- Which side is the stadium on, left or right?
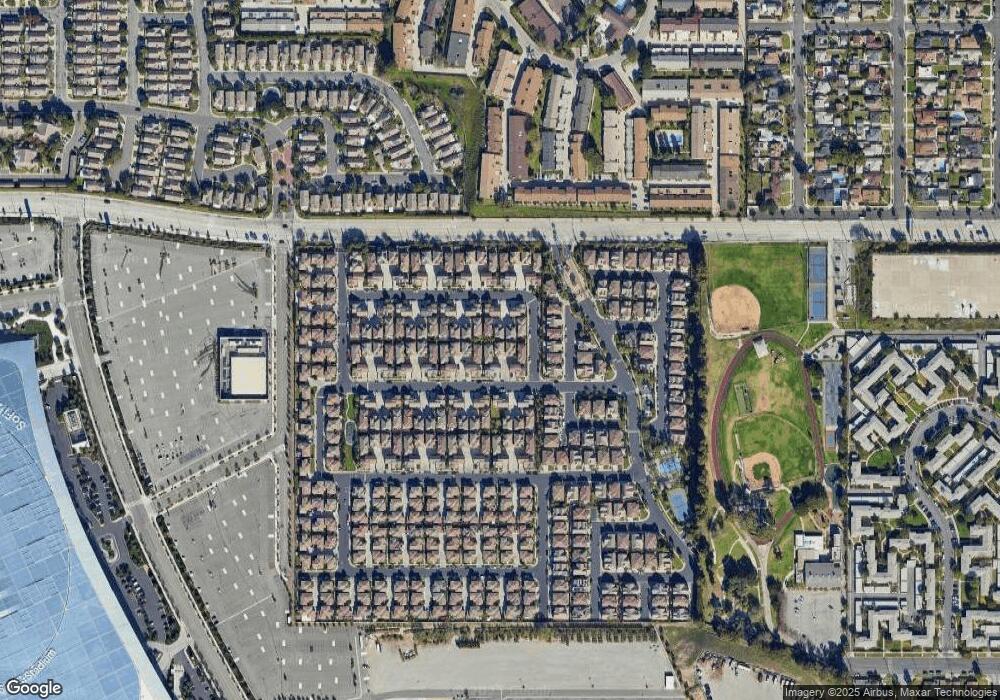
left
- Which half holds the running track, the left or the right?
right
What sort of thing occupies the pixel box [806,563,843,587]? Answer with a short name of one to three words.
house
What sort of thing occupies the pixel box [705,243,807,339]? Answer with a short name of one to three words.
baseball field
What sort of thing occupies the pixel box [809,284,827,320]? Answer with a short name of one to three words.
tennis court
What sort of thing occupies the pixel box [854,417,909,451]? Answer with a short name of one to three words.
building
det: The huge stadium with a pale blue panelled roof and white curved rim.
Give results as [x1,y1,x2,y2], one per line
[0,337,175,700]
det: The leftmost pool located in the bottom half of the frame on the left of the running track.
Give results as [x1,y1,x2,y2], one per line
[657,455,683,476]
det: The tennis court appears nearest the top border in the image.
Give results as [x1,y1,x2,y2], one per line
[809,247,827,283]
